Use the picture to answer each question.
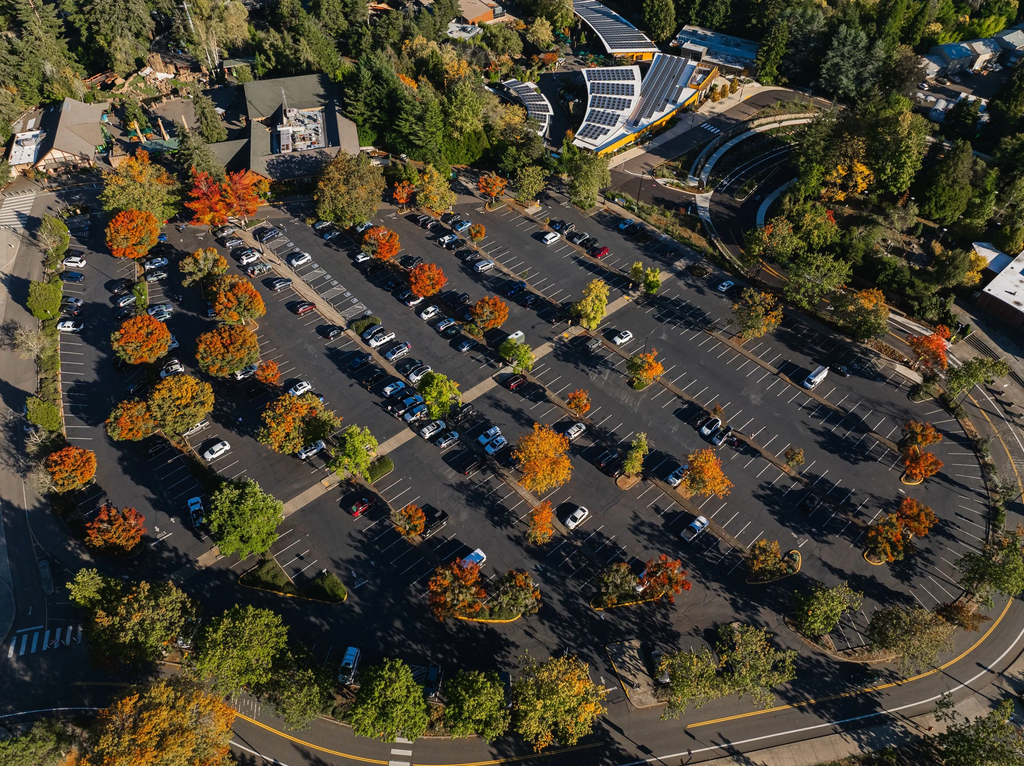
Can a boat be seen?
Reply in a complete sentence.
No, the photo shows no boat.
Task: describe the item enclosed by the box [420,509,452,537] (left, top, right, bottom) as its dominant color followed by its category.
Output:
black truck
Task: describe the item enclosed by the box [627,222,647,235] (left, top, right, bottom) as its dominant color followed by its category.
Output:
black vehicle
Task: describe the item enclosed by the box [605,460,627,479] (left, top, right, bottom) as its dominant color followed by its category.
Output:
black car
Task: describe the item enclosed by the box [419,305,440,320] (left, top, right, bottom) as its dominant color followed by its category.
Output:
white car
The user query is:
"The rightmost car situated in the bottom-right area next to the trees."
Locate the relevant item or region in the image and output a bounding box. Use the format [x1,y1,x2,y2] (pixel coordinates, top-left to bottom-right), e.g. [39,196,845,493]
[849,670,883,689]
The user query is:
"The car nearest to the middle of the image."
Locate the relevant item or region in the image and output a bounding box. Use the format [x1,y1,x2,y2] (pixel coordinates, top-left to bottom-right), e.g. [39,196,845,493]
[505,373,528,390]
